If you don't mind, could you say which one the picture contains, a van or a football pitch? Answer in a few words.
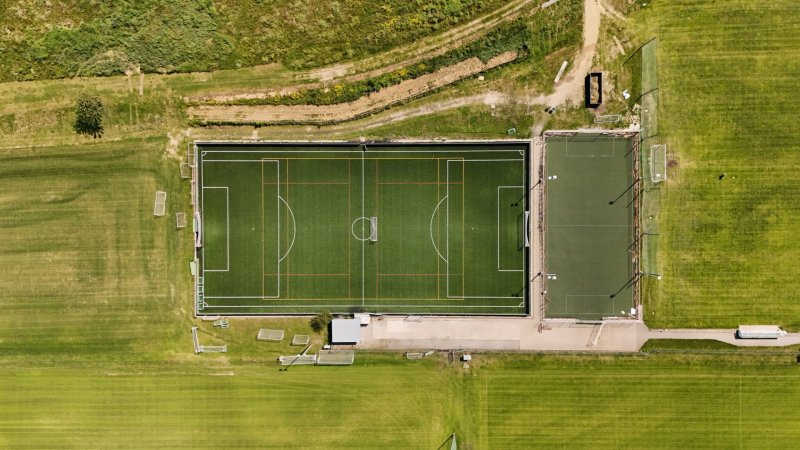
football pitch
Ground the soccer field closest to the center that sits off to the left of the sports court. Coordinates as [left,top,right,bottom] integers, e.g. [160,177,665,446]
[197,144,529,315]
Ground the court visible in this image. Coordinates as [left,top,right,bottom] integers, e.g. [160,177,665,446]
[547,135,634,319]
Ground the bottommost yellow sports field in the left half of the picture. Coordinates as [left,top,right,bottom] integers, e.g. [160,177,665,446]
[0,364,460,450]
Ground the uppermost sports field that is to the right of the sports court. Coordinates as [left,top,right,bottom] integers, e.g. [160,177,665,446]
[646,0,800,331]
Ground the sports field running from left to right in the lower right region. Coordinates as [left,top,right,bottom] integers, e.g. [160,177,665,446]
[486,367,800,450]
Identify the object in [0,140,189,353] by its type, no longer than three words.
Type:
sports field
